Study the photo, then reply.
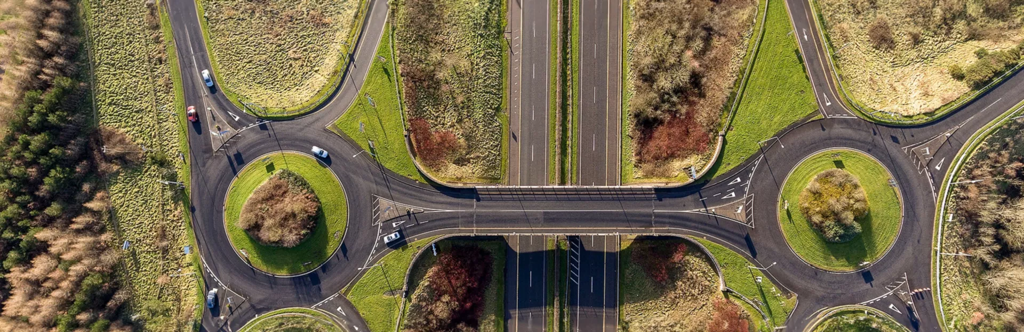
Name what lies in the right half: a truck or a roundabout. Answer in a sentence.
Visible in the right half is a roundabout.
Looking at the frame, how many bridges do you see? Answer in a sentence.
The photo contains exactly 1 bridge.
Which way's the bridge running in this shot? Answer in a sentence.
The bridge runs horizontally in the image.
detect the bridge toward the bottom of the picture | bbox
[473,184,659,237]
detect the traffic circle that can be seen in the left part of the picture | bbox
[197,125,375,303]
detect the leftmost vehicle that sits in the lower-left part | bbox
[206,289,218,308]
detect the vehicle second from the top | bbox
[187,105,199,122]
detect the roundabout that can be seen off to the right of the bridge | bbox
[753,121,930,299]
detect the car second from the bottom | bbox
[383,231,402,245]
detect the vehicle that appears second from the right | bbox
[310,146,330,159]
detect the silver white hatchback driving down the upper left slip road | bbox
[199,69,215,88]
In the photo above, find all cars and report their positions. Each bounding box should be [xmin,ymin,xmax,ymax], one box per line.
[187,105,199,122]
[199,69,215,88]
[206,289,218,308]
[310,146,330,159]
[383,231,402,245]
